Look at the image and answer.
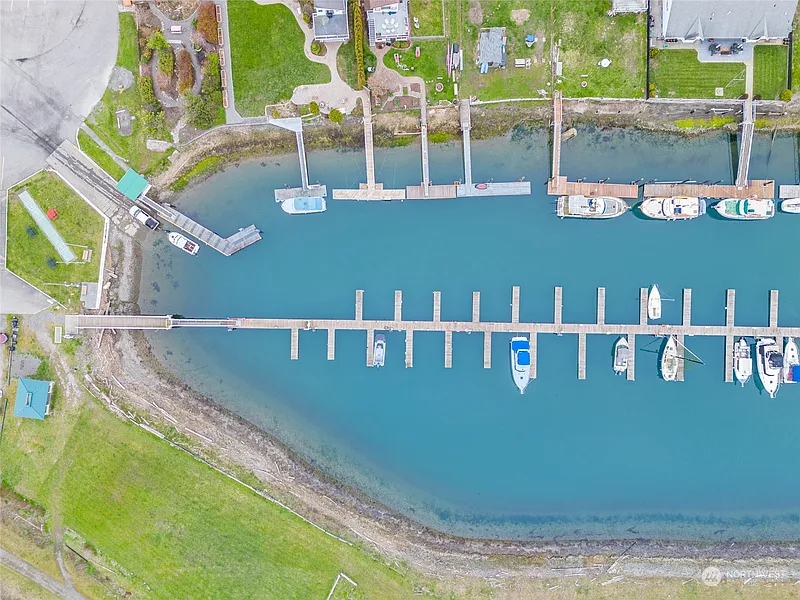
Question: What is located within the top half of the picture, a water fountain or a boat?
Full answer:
There is a boat within the top half of the picture.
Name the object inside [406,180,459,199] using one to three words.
pier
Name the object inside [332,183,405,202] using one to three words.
pier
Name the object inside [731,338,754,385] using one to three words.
boat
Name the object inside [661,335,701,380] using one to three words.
boat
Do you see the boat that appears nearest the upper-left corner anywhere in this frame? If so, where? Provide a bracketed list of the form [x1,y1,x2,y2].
[169,234,200,255]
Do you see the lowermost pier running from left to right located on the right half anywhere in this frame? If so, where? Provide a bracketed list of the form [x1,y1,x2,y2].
[227,286,800,383]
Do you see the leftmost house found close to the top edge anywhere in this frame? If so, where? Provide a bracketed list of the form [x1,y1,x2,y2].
[312,0,347,44]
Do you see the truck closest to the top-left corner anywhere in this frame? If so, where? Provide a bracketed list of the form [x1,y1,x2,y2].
[125,201,162,232]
